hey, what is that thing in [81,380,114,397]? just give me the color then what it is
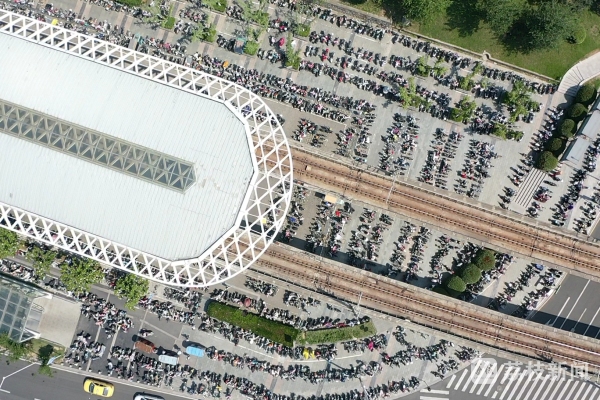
yellow car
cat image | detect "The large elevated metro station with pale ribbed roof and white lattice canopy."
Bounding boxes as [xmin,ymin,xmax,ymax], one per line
[0,8,294,288]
